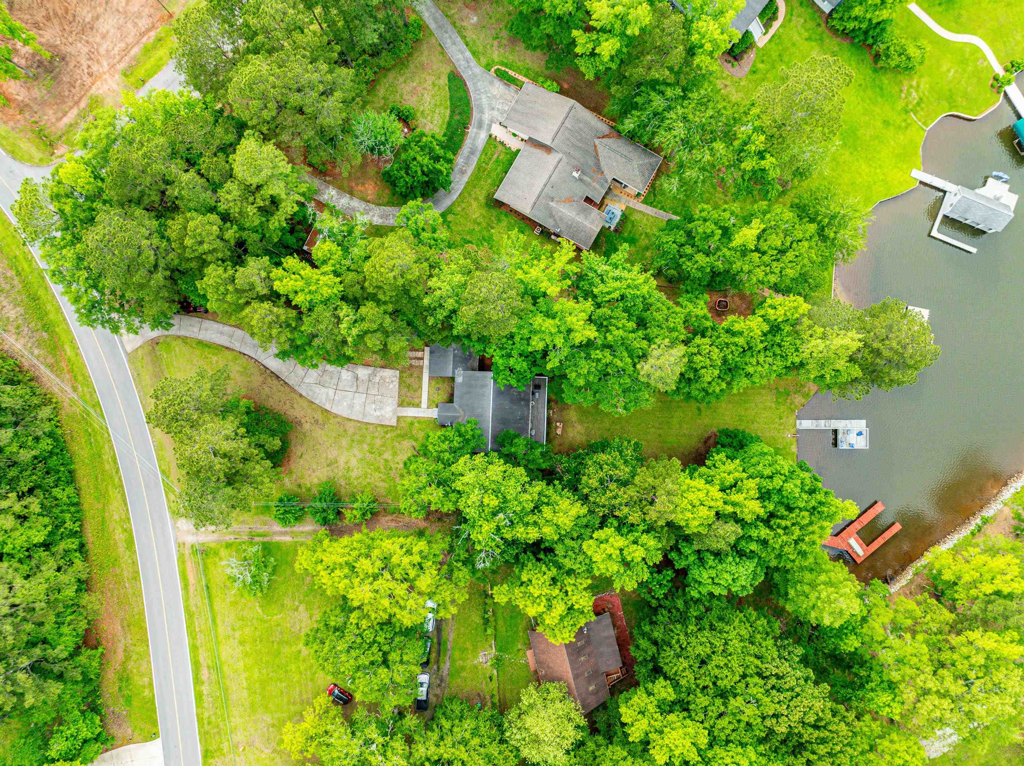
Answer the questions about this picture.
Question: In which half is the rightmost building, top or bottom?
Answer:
top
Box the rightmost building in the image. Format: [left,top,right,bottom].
[929,184,1014,236]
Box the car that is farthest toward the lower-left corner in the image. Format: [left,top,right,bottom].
[325,680,355,707]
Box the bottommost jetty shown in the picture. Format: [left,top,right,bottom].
[822,501,903,564]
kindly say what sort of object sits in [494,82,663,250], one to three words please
house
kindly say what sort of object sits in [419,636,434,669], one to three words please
car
